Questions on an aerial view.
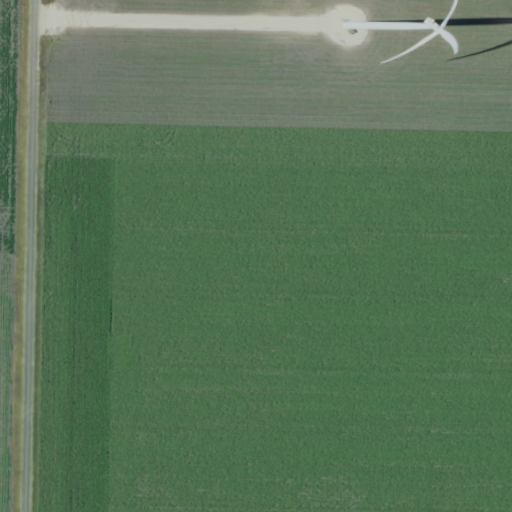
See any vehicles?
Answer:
No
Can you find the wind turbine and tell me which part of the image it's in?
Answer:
top right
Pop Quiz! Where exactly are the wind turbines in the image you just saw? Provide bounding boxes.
[340,0,457,62]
